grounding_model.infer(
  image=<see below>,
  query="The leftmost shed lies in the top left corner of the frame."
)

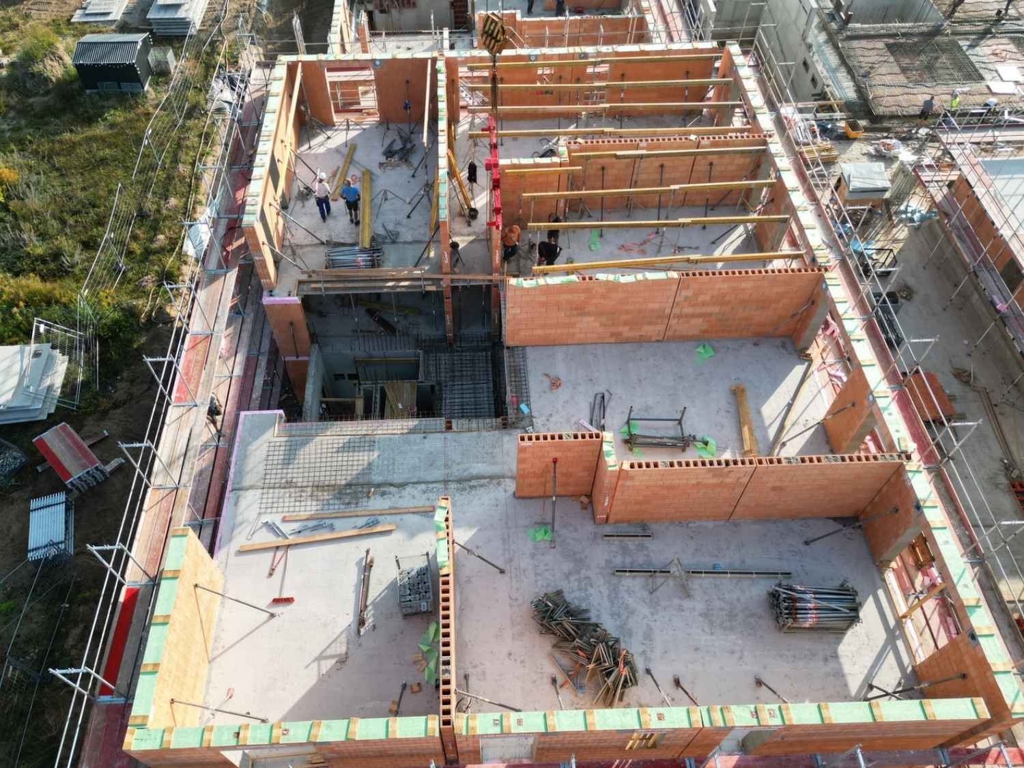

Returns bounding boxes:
[68,37,154,89]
